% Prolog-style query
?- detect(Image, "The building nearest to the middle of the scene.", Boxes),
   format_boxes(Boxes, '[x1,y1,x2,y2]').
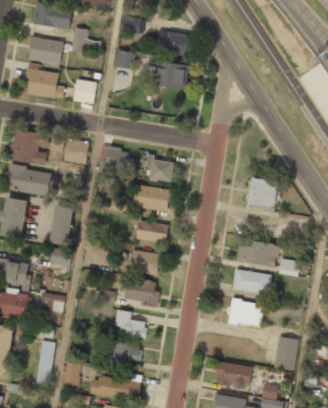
[138,186,170,212]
